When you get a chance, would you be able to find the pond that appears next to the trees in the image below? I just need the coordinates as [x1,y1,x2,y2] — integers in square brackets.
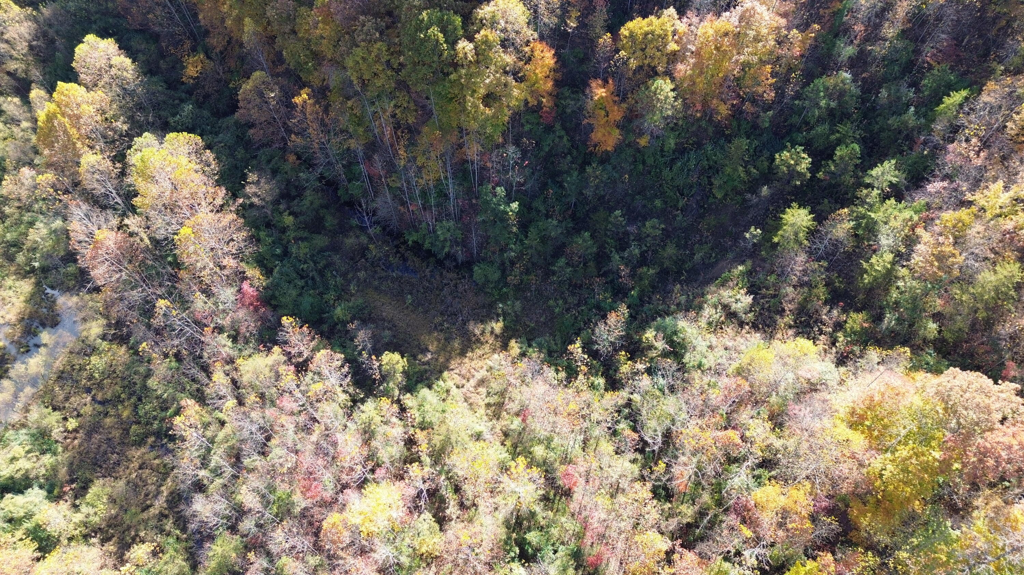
[0,284,87,438]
